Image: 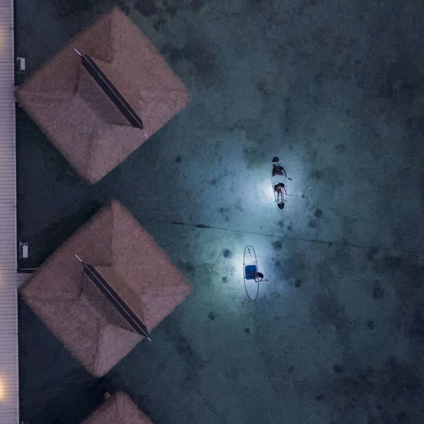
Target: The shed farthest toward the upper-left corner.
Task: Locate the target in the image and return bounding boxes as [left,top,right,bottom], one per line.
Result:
[14,6,191,182]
